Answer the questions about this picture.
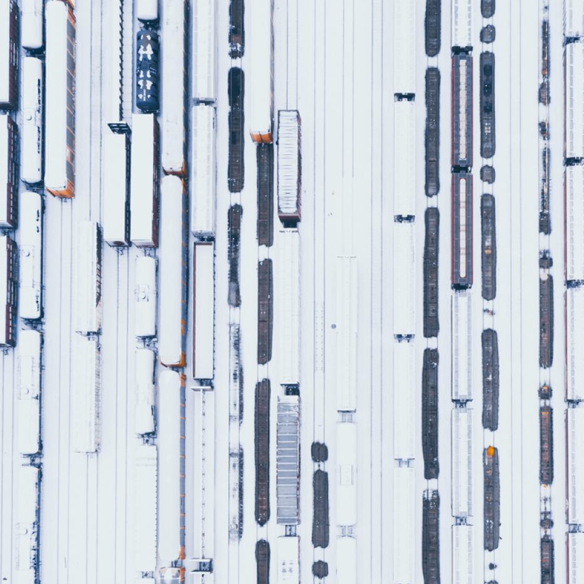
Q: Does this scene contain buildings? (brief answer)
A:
No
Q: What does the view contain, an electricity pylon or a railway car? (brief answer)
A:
railway car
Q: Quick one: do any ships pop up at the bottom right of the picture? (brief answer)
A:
No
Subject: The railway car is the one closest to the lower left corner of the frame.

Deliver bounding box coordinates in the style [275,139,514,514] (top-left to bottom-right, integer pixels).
[14,459,42,584]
